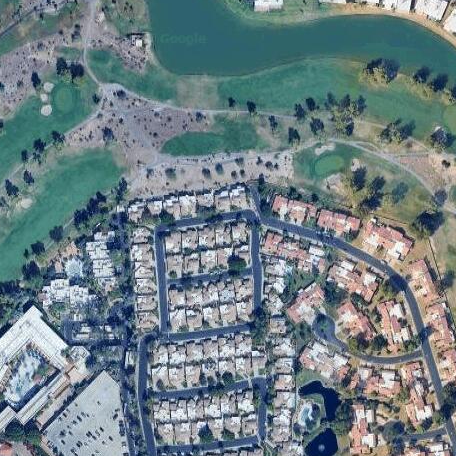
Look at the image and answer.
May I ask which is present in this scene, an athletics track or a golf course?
golf course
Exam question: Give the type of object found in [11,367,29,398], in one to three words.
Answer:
swimming pool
